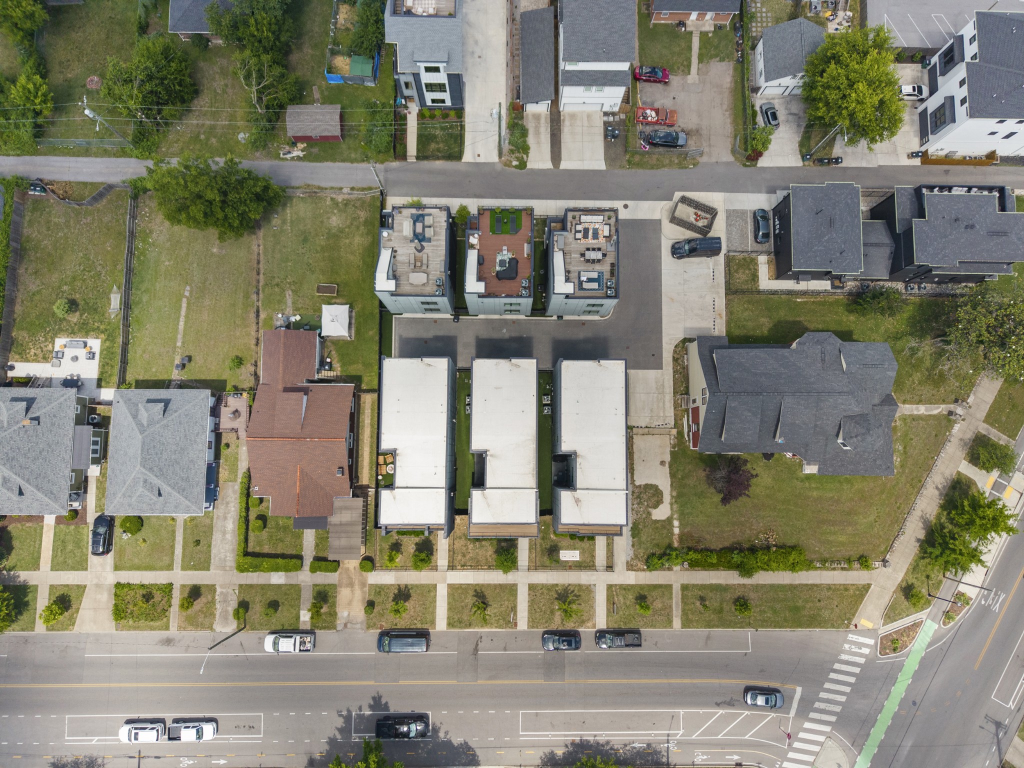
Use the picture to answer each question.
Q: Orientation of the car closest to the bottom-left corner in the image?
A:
from side to side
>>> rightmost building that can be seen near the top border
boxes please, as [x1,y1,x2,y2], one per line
[921,10,1024,150]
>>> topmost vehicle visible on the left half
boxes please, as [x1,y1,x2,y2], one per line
[90,514,116,558]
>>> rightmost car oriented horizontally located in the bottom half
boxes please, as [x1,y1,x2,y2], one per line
[742,687,784,710]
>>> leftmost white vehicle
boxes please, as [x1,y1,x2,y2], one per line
[119,720,166,744]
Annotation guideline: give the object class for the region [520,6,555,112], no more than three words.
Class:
building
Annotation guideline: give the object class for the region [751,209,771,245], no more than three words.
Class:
car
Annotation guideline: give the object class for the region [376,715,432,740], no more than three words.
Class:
truck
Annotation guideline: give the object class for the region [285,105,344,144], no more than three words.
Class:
shed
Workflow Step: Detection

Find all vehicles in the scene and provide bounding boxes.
[90,514,116,558]
[168,718,220,742]
[633,65,670,86]
[751,209,771,245]
[756,97,785,135]
[634,106,678,127]
[742,687,784,710]
[541,630,582,651]
[378,631,431,653]
[264,631,318,654]
[376,715,432,740]
[595,628,643,650]
[648,129,687,149]
[119,720,166,744]
[671,236,723,259]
